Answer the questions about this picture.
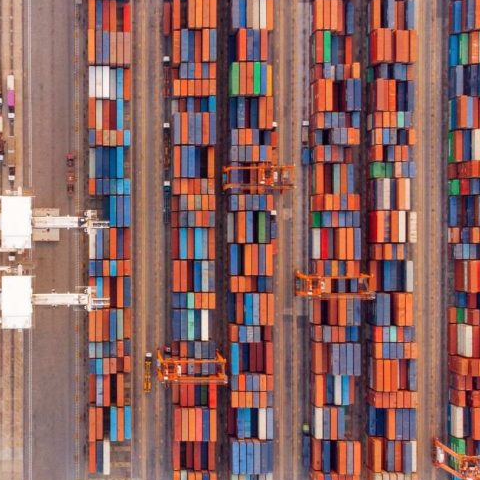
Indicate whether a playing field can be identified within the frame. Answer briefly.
No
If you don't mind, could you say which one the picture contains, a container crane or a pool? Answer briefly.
container crane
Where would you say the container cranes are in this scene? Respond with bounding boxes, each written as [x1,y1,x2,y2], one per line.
[0,184,109,260]
[154,344,232,383]
[292,266,381,300]
[0,260,109,331]
[432,436,480,480]
[218,164,301,199]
